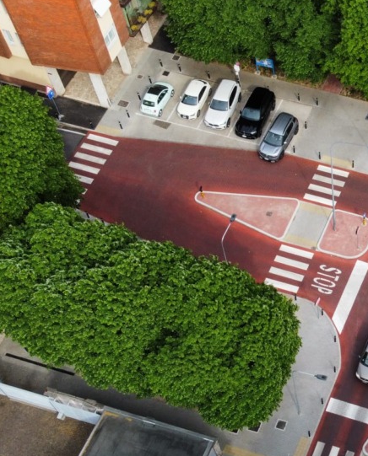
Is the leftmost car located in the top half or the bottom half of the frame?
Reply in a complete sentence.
The top half of the photo is where the leftmost car is.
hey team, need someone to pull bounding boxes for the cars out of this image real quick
[238,86,274,136]
[206,78,239,127]
[355,335,368,385]
[140,80,176,117]
[177,77,212,121]
[262,112,296,160]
